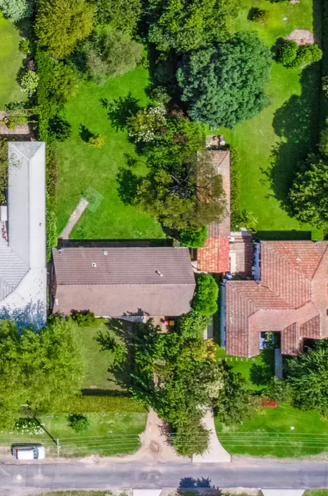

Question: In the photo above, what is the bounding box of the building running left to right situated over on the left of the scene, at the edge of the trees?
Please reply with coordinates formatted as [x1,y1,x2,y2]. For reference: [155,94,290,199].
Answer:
[50,246,196,316]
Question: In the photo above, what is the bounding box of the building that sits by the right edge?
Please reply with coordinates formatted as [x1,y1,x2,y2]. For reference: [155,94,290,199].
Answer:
[218,240,328,359]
